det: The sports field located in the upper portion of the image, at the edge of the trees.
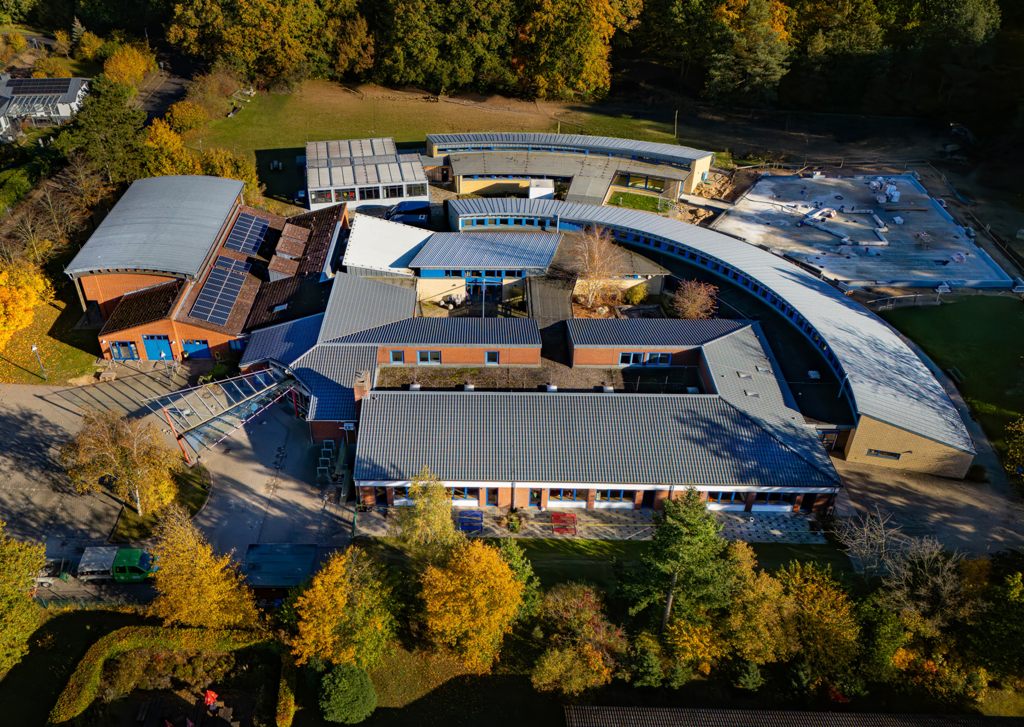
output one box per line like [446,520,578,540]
[190,79,943,221]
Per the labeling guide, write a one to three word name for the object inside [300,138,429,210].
building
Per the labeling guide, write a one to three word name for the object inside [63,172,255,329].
building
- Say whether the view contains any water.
No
